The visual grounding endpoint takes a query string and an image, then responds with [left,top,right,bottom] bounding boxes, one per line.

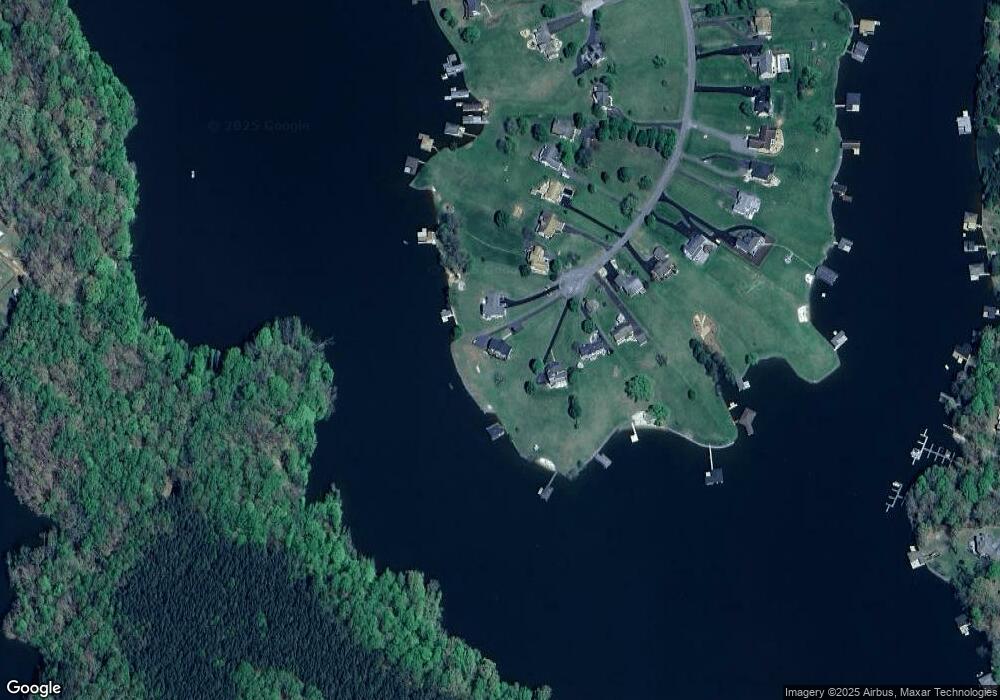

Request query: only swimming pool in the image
[777,54,791,72]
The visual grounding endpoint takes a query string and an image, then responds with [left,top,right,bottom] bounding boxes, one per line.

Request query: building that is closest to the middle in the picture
[483,336,514,359]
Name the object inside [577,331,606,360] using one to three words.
house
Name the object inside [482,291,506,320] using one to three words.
house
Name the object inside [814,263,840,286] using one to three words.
building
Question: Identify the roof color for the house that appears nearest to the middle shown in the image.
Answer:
blue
